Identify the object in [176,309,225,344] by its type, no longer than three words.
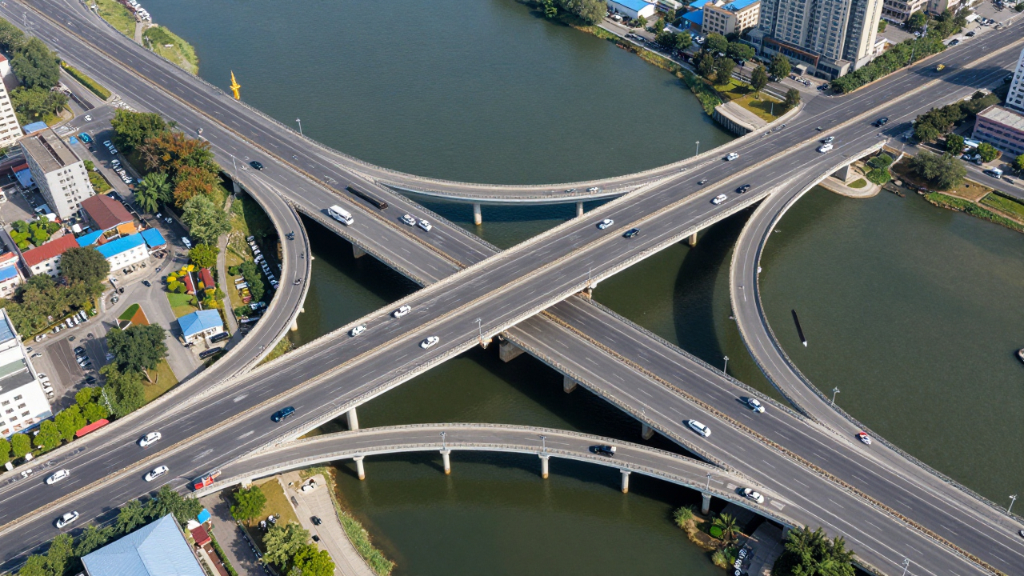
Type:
house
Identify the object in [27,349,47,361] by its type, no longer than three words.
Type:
vehicle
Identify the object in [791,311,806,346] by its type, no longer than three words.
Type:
ship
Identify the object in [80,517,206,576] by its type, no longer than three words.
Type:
building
